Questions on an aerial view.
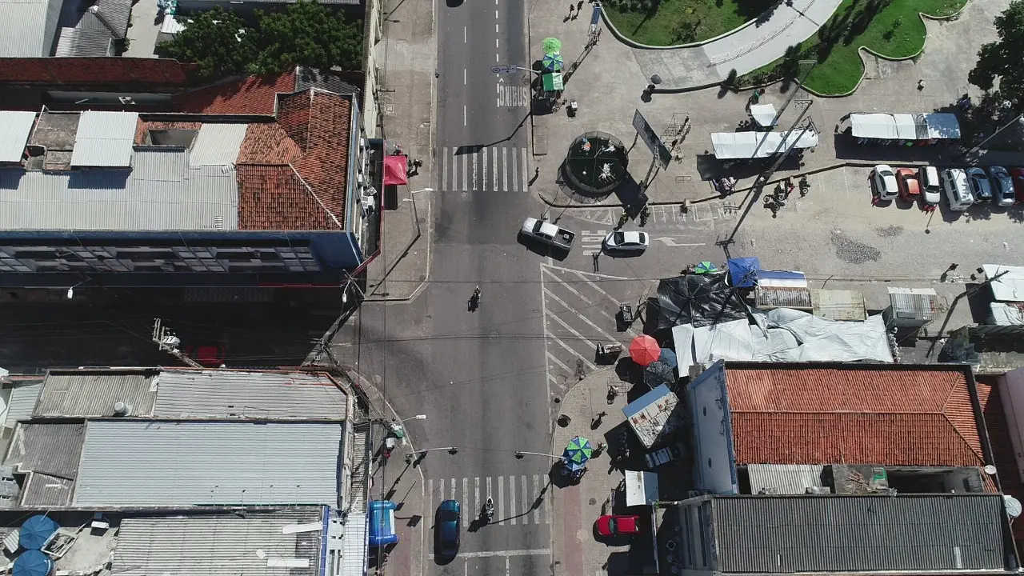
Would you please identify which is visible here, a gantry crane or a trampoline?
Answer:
trampoline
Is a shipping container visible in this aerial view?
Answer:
No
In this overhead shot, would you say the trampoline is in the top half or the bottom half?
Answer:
top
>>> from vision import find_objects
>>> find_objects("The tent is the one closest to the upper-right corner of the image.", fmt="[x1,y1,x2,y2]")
[842,112,961,149]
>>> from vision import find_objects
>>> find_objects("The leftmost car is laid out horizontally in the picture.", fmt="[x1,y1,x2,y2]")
[185,343,232,367]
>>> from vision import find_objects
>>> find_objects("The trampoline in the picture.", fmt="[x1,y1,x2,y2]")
[558,132,630,203]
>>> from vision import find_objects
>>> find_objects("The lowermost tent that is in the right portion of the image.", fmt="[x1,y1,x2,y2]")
[621,470,660,508]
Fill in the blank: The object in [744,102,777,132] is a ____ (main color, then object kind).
white tent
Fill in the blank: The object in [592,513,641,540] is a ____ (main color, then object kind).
red car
